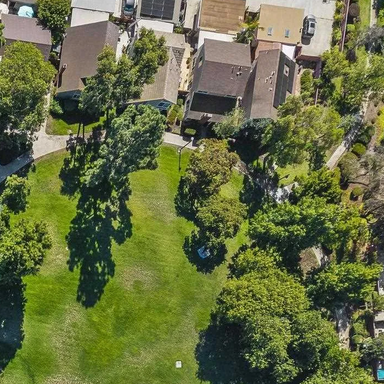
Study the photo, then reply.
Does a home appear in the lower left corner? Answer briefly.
No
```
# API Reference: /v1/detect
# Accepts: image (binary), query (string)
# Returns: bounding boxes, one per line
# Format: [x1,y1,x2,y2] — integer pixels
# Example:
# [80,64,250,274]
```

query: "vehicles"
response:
[303,11,318,37]
[122,0,136,14]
